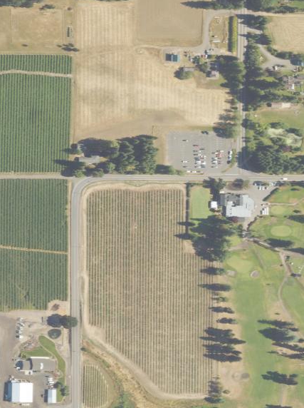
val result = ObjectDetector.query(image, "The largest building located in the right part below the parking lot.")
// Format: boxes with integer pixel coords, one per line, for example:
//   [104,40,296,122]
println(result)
[224,195,255,216]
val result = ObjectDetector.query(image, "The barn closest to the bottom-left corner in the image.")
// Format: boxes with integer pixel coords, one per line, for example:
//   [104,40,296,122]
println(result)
[9,383,32,402]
